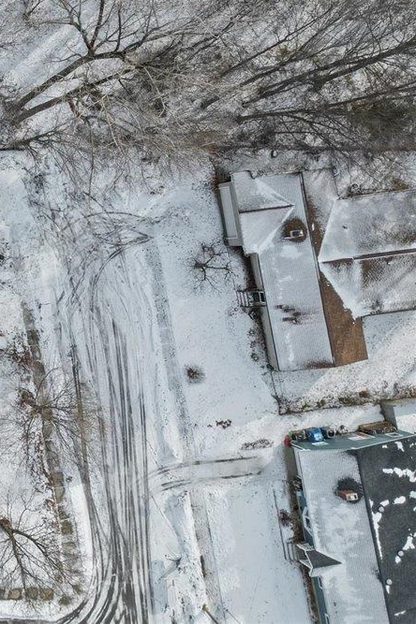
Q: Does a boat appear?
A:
No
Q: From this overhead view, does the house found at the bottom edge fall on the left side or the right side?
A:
right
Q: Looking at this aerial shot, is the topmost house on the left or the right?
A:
right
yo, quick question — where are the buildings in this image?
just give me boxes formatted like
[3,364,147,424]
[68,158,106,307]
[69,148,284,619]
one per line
[205,168,416,371]
[283,427,416,624]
